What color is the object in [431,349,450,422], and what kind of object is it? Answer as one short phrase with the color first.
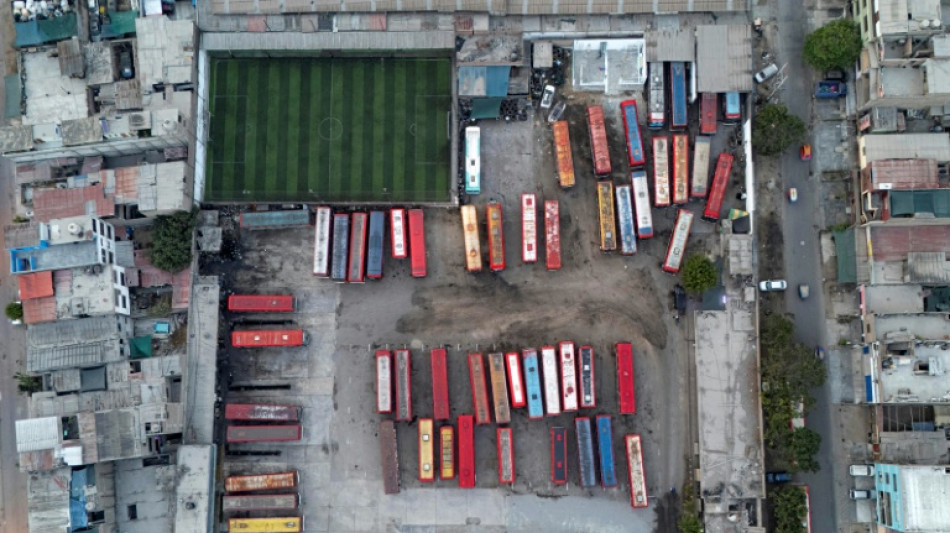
red vehicle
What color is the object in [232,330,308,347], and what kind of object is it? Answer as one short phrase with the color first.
red vehicle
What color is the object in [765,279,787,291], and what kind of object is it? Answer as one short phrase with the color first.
white vehicle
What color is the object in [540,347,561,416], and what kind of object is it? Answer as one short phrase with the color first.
white bus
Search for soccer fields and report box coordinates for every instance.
[205,57,451,199]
